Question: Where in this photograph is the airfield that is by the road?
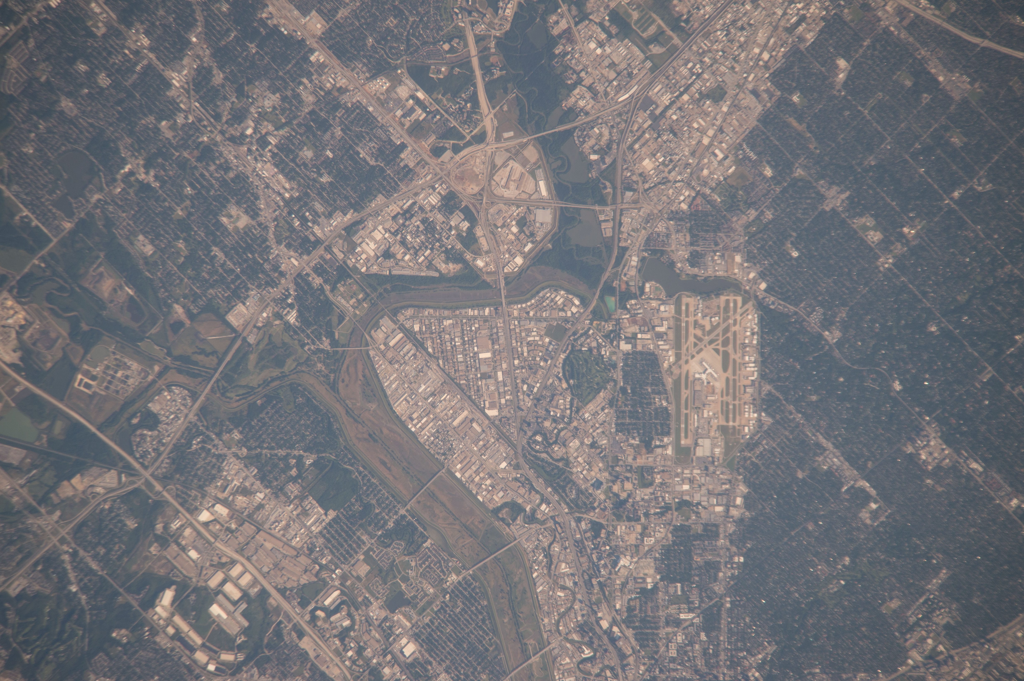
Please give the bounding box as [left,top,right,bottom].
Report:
[671,292,759,466]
